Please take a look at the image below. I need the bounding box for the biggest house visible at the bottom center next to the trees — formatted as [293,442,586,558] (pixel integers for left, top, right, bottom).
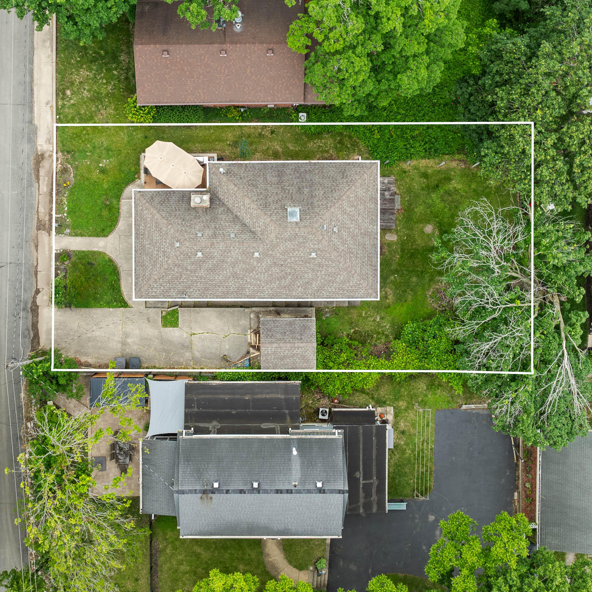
[139,378,388,539]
